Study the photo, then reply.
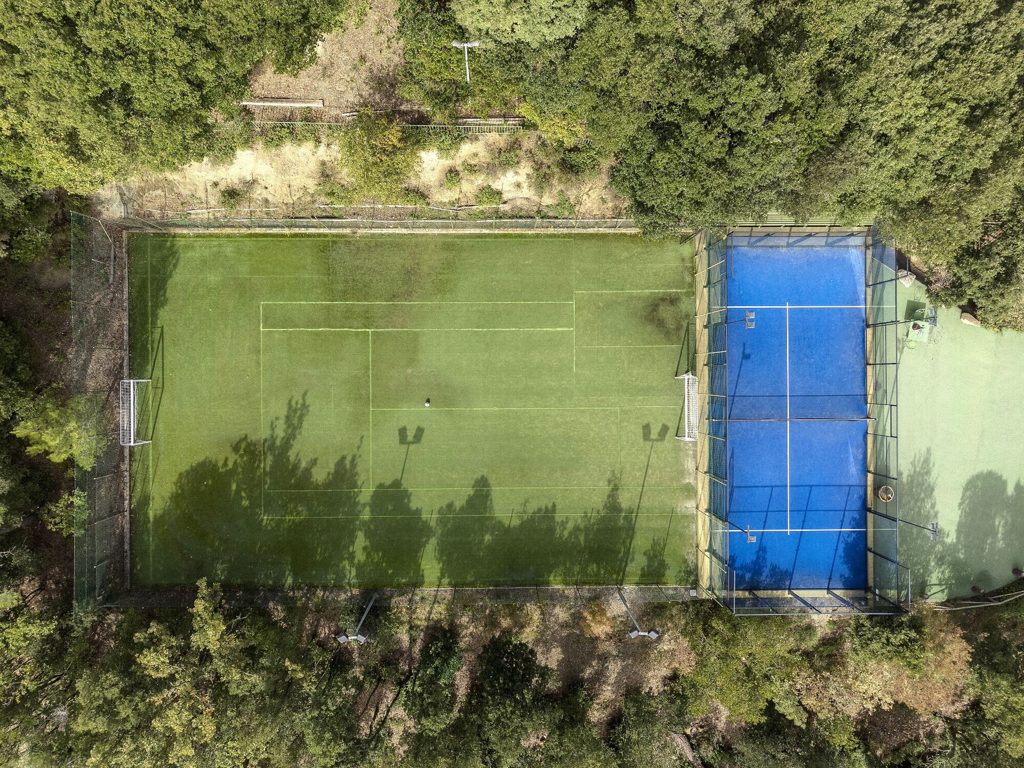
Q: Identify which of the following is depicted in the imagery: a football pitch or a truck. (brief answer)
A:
football pitch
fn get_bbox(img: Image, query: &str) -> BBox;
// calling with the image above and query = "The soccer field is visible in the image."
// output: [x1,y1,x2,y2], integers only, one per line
[123,225,696,591]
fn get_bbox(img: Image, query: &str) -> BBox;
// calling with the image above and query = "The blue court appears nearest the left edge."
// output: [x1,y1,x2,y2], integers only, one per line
[696,226,876,599]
